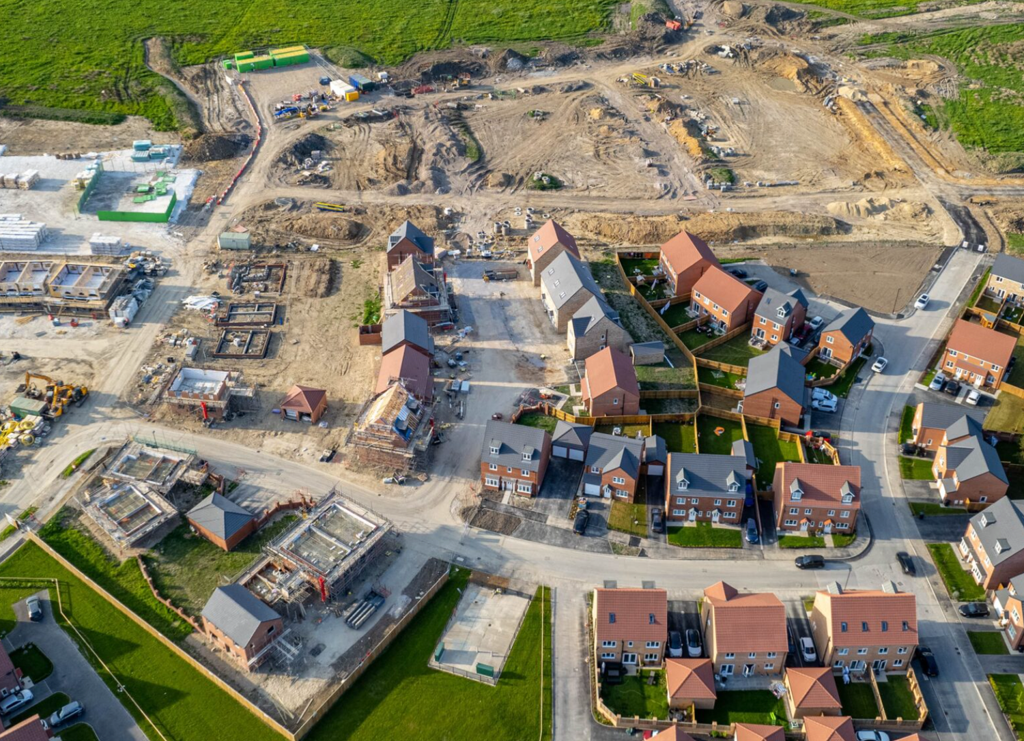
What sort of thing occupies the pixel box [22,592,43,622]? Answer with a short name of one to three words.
car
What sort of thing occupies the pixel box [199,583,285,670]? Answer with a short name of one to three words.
house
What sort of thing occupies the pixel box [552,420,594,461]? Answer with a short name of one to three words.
building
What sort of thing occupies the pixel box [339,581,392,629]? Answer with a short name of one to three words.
trailer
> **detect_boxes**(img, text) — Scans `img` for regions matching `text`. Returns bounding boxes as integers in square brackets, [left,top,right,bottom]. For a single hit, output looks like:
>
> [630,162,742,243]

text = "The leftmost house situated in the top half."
[0,258,63,313]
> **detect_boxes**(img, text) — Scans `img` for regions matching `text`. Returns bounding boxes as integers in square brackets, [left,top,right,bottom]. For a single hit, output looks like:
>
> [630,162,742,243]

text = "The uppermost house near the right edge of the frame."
[984,251,1024,307]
